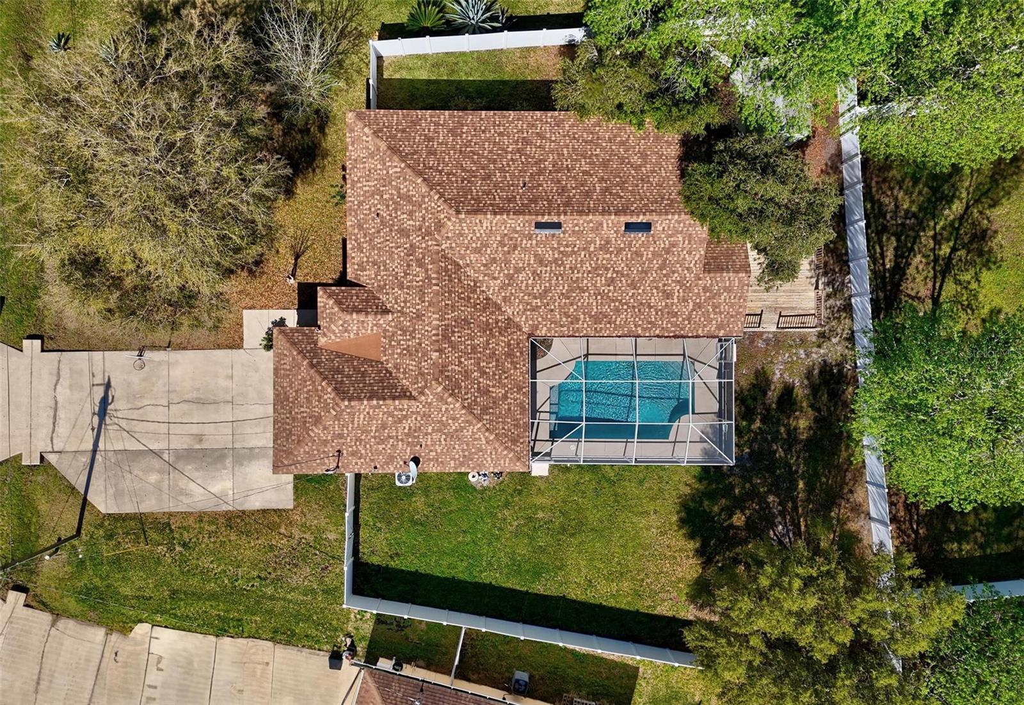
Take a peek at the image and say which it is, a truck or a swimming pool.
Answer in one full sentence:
I can see a swimming pool in this picture.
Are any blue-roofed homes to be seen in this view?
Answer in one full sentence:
No, no blue-roofed home is visible in the view.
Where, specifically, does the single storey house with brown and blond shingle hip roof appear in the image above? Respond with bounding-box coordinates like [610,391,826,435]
[271,107,752,475]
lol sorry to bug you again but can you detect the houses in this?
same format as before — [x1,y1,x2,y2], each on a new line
[271,107,752,475]
[345,654,558,705]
